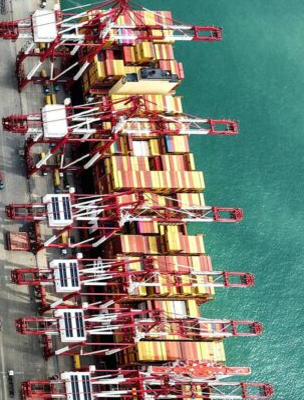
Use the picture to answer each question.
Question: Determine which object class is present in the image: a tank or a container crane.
container crane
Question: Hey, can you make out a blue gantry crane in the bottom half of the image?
No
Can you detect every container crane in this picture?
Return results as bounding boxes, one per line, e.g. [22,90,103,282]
[13,301,267,369]
[2,188,245,265]
[0,0,226,95]
[0,97,244,184]
[8,252,258,323]
[19,358,279,400]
